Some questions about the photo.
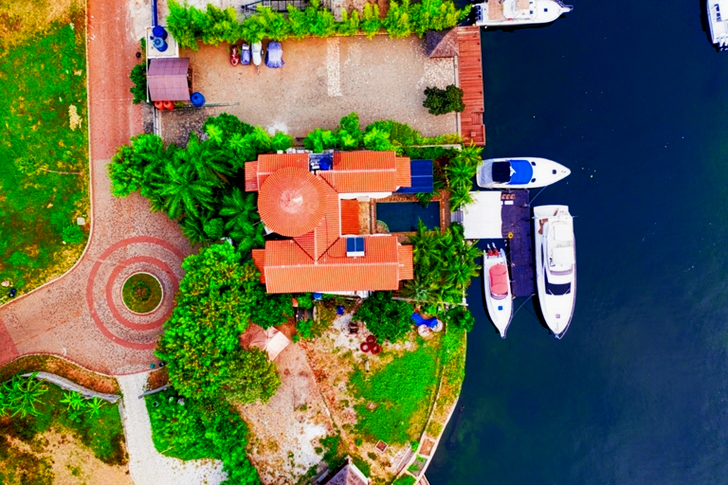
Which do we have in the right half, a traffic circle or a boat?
boat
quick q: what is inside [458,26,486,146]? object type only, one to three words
pier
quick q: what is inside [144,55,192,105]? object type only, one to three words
shed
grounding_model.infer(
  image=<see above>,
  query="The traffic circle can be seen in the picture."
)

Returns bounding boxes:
[87,238,196,348]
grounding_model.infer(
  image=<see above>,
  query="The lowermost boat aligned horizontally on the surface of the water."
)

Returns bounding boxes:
[473,156,573,188]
